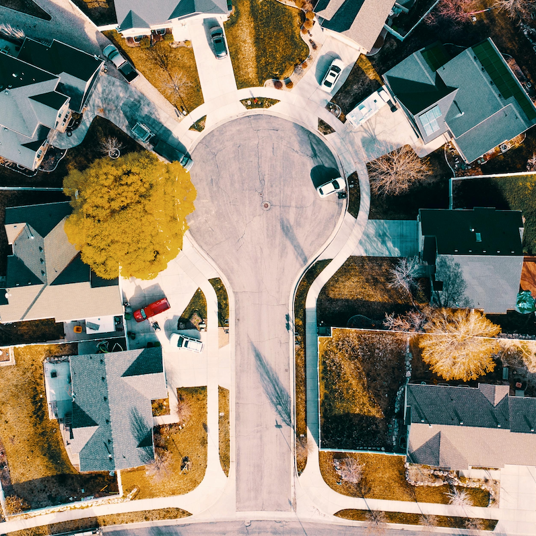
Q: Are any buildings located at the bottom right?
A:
Yes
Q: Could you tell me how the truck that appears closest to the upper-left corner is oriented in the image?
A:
diagonally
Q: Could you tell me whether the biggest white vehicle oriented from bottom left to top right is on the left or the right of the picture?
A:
right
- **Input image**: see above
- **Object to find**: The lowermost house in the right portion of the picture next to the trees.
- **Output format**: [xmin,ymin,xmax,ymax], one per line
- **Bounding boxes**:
[404,383,536,468]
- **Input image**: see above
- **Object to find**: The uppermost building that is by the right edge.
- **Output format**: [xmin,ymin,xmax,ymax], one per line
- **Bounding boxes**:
[382,36,536,164]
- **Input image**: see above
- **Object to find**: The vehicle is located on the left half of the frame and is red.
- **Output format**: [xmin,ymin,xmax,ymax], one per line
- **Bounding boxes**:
[133,296,172,324]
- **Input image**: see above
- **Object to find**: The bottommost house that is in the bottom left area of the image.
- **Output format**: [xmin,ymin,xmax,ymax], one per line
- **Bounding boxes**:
[70,347,169,472]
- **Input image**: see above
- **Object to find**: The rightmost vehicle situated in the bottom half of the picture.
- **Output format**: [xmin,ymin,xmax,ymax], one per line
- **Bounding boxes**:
[168,332,206,355]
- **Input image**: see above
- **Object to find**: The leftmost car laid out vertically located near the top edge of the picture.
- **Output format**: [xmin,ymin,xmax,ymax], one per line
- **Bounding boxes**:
[207,21,227,61]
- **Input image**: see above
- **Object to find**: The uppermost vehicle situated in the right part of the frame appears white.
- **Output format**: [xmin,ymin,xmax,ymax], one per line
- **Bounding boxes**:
[322,56,345,95]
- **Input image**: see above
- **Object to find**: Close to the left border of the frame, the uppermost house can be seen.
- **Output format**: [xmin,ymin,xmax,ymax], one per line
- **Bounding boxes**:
[0,36,106,169]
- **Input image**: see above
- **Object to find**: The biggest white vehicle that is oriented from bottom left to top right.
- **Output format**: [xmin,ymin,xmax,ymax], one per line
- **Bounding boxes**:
[345,91,386,131]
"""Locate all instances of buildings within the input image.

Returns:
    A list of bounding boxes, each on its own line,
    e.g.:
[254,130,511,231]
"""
[113,0,230,35]
[382,36,536,164]
[404,383,536,468]
[0,199,125,323]
[0,36,106,169]
[313,0,396,55]
[70,347,169,472]
[418,208,530,315]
